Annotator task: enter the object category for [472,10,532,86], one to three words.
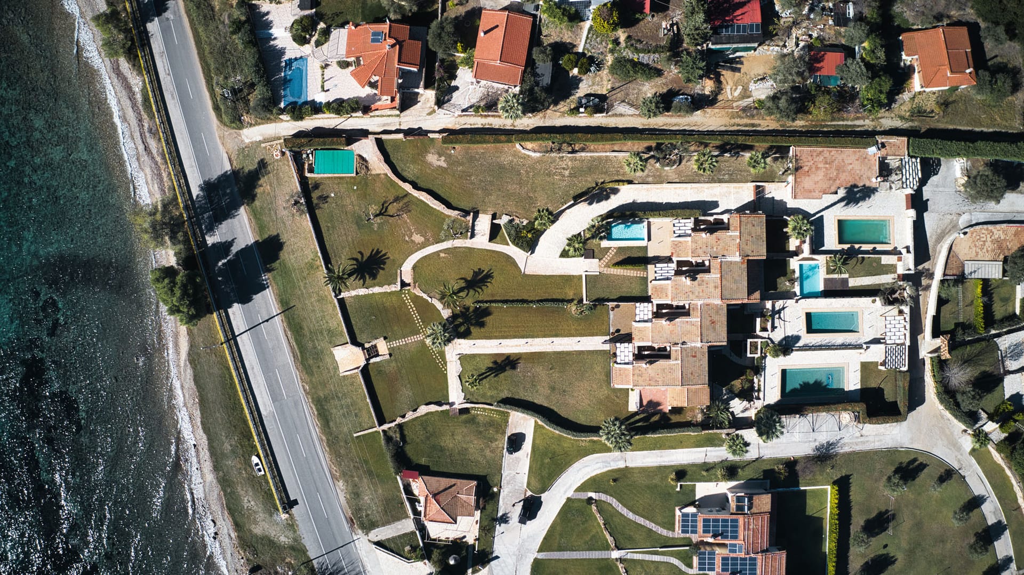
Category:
house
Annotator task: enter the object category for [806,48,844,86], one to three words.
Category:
shed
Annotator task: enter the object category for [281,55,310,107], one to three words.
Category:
swimming pool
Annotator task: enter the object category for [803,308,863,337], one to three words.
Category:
swimming pool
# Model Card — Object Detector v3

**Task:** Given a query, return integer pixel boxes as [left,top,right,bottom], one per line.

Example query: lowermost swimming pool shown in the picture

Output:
[778,364,849,403]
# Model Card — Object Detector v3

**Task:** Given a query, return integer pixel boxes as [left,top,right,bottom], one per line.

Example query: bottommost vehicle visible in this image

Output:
[512,494,533,524]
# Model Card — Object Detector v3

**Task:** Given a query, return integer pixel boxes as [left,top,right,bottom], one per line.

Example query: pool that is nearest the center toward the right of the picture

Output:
[608,220,648,243]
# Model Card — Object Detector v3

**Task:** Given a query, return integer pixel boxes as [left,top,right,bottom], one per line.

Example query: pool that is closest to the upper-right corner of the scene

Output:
[835,216,895,247]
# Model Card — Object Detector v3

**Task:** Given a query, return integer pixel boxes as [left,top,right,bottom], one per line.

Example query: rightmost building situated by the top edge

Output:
[896,27,976,90]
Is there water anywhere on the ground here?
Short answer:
Yes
